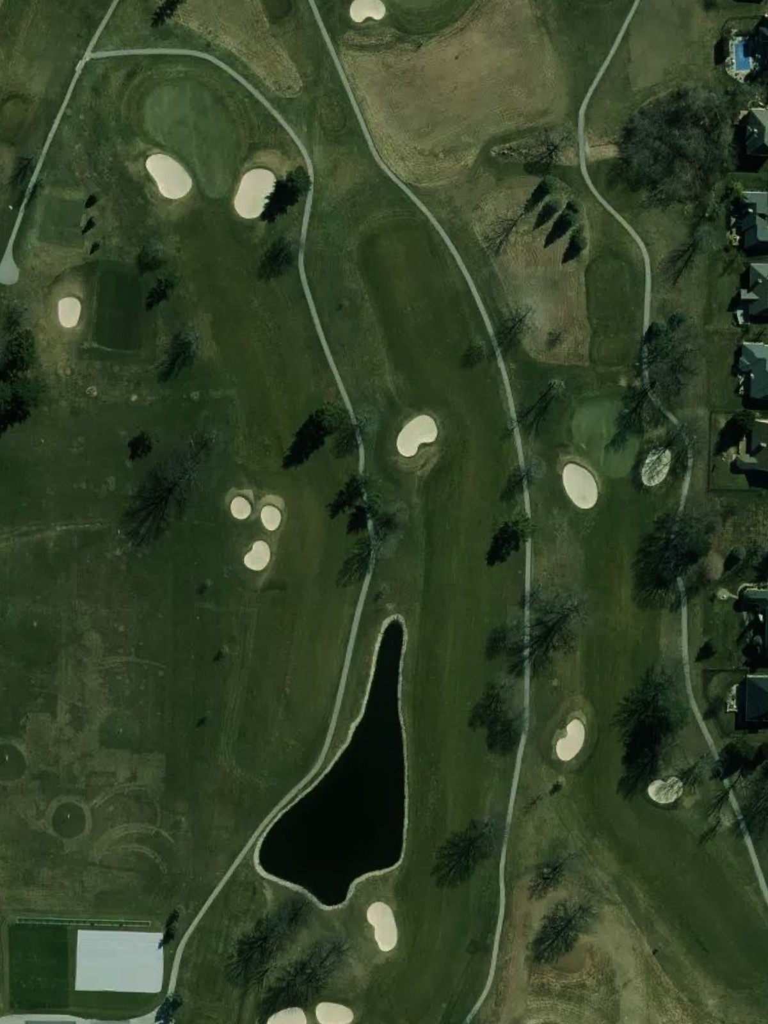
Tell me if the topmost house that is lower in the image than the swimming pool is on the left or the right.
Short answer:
right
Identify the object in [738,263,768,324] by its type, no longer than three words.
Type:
house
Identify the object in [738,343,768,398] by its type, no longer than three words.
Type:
house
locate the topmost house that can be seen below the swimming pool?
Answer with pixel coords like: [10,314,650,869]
[734,108,768,154]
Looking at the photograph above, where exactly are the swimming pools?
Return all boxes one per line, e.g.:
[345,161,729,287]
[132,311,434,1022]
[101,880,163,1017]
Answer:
[734,42,751,71]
